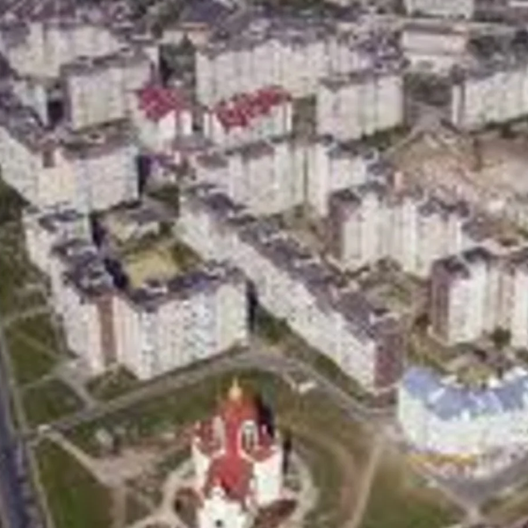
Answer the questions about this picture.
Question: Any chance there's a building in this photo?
Yes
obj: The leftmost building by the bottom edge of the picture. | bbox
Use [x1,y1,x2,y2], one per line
[185,372,287,528]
